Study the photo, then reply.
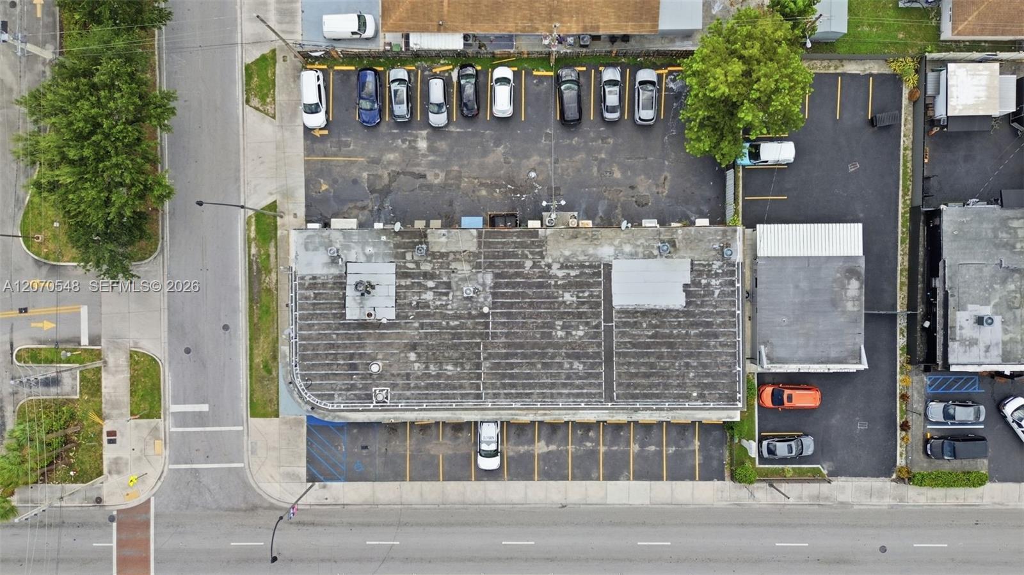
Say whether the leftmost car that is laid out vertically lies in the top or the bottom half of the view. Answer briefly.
top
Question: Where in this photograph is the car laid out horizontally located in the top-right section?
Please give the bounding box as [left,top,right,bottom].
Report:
[735,140,795,166]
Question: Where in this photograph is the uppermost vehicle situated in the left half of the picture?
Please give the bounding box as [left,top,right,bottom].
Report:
[322,11,377,42]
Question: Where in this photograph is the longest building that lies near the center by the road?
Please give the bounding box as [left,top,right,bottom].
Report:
[282,217,746,421]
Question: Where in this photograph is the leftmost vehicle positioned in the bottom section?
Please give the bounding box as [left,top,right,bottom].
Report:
[475,421,502,470]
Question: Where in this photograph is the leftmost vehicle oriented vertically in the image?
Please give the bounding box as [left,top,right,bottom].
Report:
[300,70,328,130]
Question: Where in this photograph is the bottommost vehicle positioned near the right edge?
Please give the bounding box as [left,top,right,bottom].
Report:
[924,434,990,462]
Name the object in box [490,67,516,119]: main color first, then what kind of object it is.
white car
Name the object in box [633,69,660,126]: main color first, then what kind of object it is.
gray car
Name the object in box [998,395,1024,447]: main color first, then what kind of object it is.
white car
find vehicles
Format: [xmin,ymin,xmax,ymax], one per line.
[633,69,660,126]
[735,140,795,166]
[425,76,449,128]
[322,11,377,42]
[923,400,986,426]
[300,70,328,130]
[599,68,625,122]
[757,433,813,460]
[355,69,382,127]
[998,395,1024,447]
[924,434,990,462]
[456,66,482,119]
[490,67,516,119]
[757,384,822,411]
[555,69,583,126]
[386,69,413,123]
[475,421,502,470]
